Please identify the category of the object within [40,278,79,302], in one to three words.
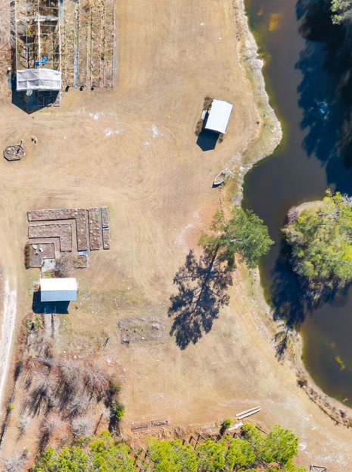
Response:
shed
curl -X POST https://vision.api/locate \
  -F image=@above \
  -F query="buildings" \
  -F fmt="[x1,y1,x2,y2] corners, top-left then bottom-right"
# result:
[40,278,79,302]
[13,0,62,93]
[205,98,238,135]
